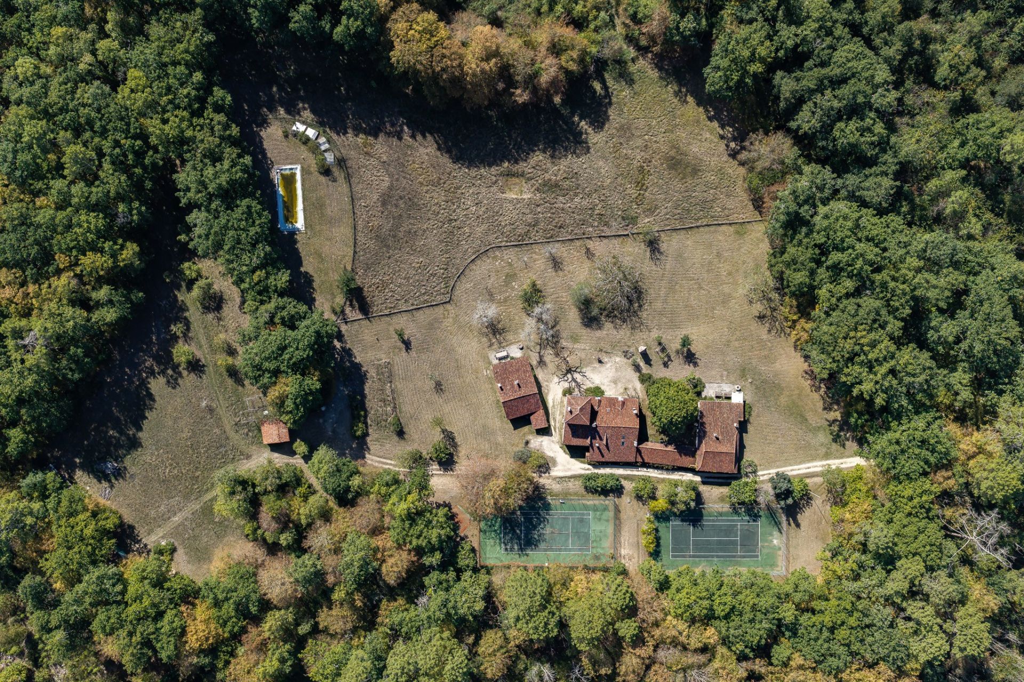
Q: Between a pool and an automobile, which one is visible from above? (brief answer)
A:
pool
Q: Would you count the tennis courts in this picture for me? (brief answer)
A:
two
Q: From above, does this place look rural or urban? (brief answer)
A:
rural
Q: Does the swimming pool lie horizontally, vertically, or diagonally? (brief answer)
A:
vertically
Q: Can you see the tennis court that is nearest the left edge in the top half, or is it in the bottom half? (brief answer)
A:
bottom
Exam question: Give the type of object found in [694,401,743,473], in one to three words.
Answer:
house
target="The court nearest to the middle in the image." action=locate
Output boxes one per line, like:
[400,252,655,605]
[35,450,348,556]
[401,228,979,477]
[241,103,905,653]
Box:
[480,499,612,565]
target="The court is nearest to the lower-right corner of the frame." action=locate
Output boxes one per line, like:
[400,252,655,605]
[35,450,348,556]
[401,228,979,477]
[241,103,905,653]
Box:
[648,505,783,572]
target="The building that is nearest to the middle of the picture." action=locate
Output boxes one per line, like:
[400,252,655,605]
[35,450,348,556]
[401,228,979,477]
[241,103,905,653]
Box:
[493,357,548,429]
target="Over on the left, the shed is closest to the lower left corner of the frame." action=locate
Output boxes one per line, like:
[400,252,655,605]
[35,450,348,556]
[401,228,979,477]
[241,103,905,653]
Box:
[261,421,292,444]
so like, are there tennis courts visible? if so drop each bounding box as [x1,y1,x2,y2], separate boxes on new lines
[648,505,783,572]
[480,499,612,565]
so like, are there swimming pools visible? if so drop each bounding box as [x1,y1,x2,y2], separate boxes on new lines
[274,164,304,232]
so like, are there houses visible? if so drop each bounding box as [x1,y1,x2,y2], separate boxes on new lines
[563,395,639,462]
[694,401,743,473]
[493,357,548,429]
